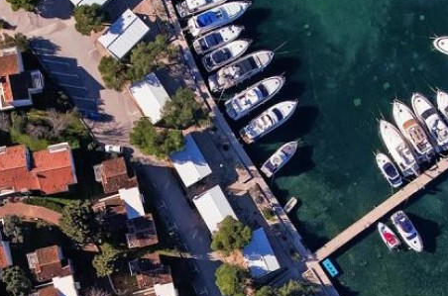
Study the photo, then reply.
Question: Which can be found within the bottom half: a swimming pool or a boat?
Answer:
boat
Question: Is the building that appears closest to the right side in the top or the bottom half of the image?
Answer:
bottom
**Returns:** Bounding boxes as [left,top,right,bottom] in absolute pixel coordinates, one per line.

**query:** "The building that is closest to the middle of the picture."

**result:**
[168,142,211,187]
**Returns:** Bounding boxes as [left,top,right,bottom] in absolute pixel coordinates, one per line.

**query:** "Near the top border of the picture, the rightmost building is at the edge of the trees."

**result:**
[97,8,149,58]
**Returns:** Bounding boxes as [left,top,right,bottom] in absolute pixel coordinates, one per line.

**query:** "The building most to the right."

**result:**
[243,228,279,277]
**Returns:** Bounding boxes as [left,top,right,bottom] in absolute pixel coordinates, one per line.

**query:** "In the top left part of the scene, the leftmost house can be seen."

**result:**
[0,48,46,113]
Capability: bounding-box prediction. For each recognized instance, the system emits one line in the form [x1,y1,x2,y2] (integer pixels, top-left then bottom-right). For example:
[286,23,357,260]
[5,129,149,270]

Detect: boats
[380,120,418,180]
[200,39,251,72]
[185,0,251,39]
[236,99,298,144]
[205,51,273,92]
[389,208,433,261]
[189,26,244,55]
[175,0,219,19]
[377,223,399,250]
[259,140,297,179]
[223,71,294,122]
[413,92,448,154]
[377,154,403,192]
[393,95,434,164]
[283,197,295,212]
[431,86,448,121]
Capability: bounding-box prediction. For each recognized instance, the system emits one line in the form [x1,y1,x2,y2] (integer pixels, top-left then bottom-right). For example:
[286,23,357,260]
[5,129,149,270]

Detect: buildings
[0,142,77,197]
[129,254,176,296]
[168,142,211,187]
[130,72,168,125]
[243,228,279,277]
[0,48,46,113]
[93,157,158,248]
[0,219,13,272]
[193,185,233,233]
[97,8,149,58]
[27,245,82,296]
